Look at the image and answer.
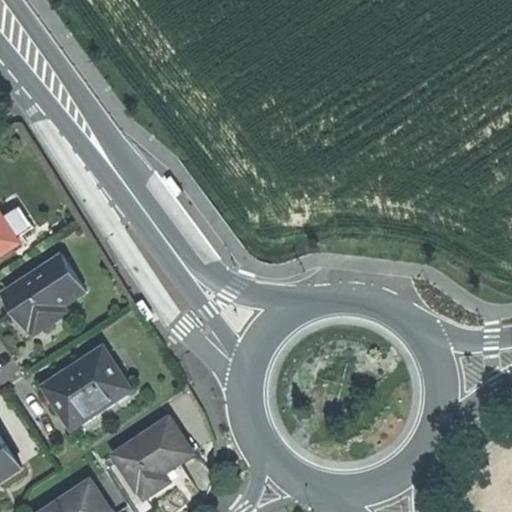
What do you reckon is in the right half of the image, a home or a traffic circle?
traffic circle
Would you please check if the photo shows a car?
Yes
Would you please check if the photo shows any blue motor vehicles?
No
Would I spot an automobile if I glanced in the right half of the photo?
No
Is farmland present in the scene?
Yes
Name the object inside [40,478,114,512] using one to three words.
house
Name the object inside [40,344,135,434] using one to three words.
house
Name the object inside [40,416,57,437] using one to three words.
car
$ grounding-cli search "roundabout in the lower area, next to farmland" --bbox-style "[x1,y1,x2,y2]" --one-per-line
[239,288,451,500]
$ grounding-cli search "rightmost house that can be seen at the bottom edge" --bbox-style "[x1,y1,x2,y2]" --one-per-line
[111,416,197,502]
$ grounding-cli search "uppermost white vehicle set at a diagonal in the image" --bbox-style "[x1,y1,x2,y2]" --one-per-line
[26,394,45,416]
